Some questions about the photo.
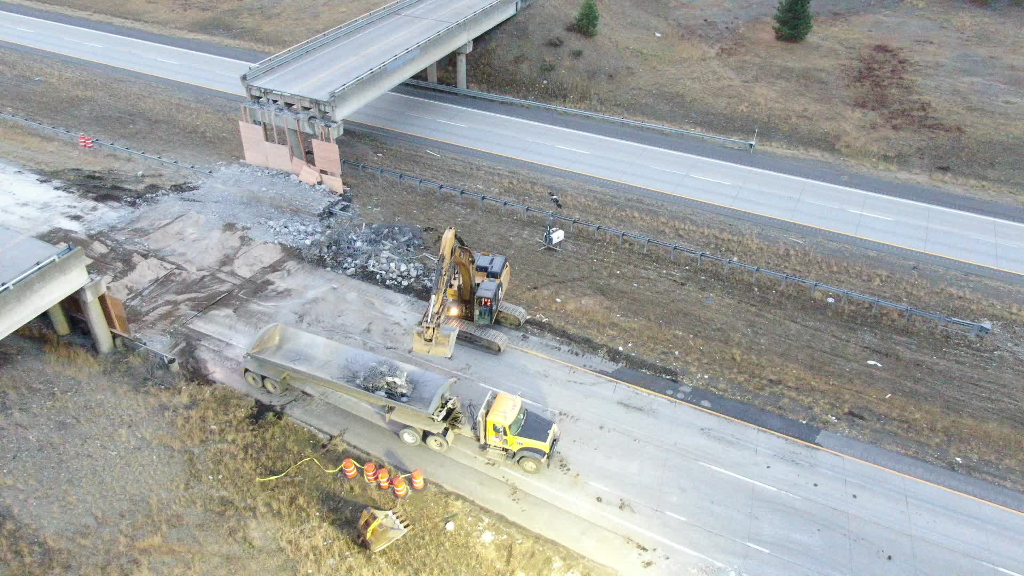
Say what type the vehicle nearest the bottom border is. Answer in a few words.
truck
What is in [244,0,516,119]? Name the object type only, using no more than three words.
overpass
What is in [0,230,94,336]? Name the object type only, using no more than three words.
overpass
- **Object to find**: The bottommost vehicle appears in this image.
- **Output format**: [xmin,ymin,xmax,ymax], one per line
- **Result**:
[402,385,567,478]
